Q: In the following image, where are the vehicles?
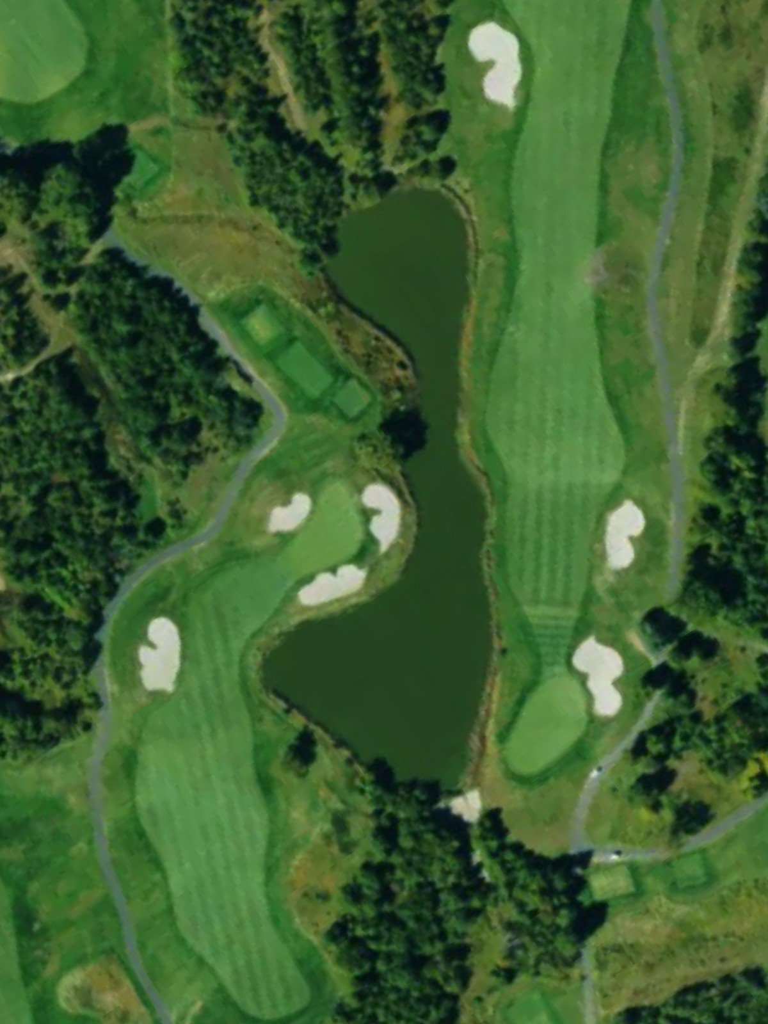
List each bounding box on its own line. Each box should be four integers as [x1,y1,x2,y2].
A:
[610,854,619,859]
[591,769,598,778]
